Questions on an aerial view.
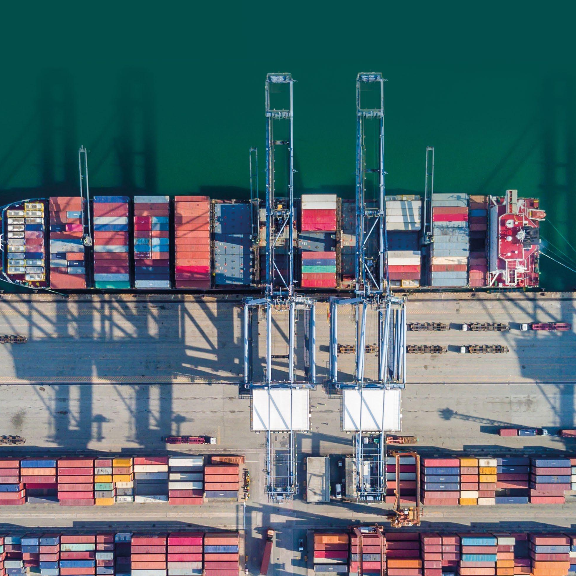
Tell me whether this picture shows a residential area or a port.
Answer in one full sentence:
The picture captures a port.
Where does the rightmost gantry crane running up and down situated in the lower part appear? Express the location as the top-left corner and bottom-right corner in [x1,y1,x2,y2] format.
[383,445,422,526]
